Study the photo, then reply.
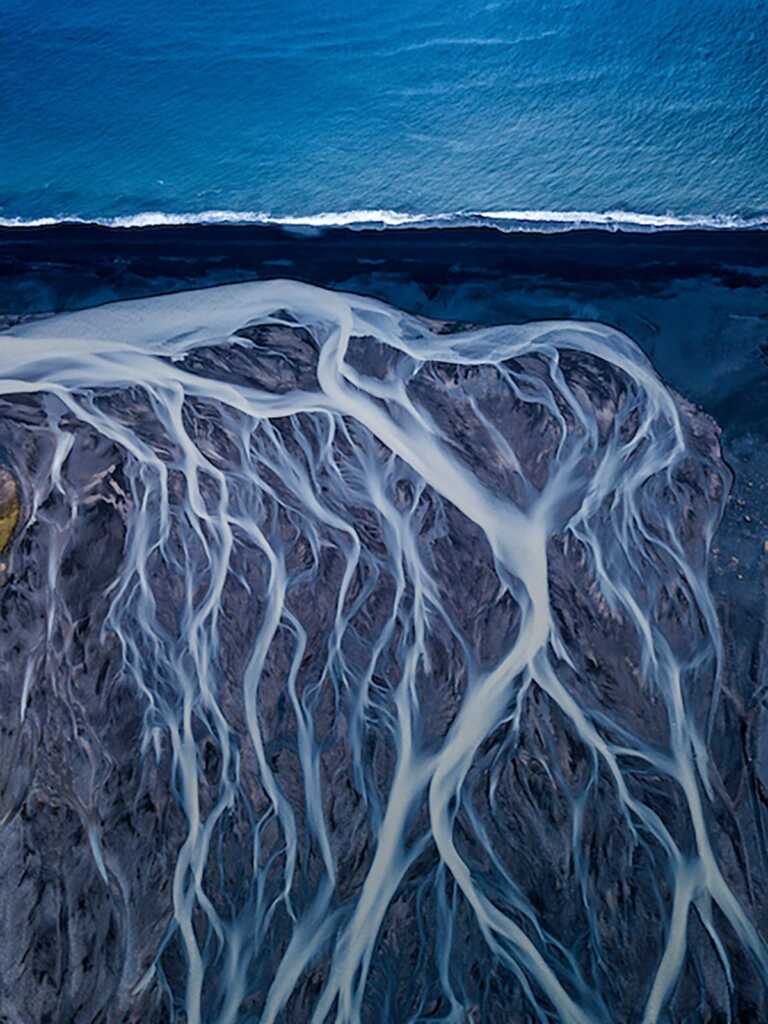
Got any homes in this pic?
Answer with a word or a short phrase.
No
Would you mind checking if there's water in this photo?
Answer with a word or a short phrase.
Yes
